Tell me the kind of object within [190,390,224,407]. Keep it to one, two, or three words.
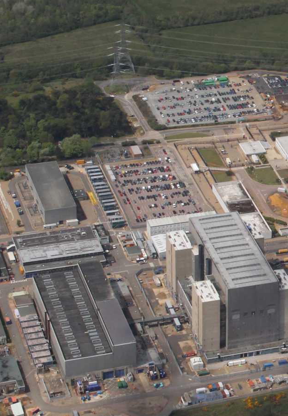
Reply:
building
